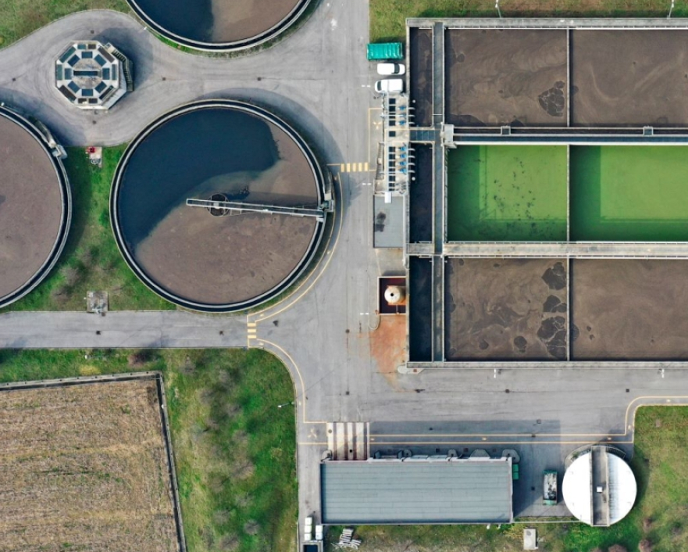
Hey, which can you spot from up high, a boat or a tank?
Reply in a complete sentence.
I can see a tank in this picture.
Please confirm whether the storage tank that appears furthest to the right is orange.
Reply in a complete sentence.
No, the storage tank that appears furthest to the right is actually white.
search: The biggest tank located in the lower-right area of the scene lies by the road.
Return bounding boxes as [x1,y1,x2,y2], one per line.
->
[561,442,637,528]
